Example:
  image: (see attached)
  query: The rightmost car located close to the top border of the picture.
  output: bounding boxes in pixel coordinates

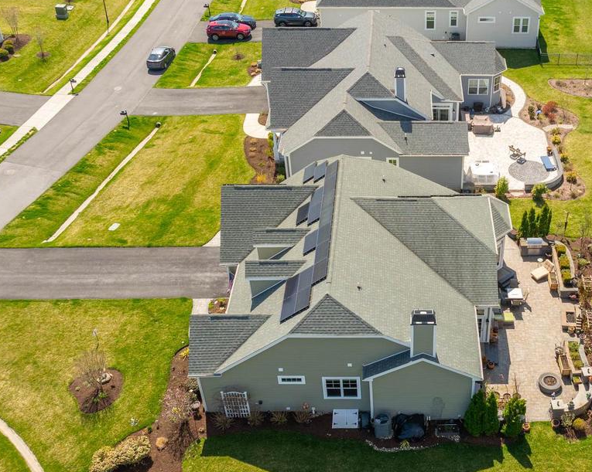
[271,5,319,27]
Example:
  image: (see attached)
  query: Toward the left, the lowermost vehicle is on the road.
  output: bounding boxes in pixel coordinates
[140,46,177,72]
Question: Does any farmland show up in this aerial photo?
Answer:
No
